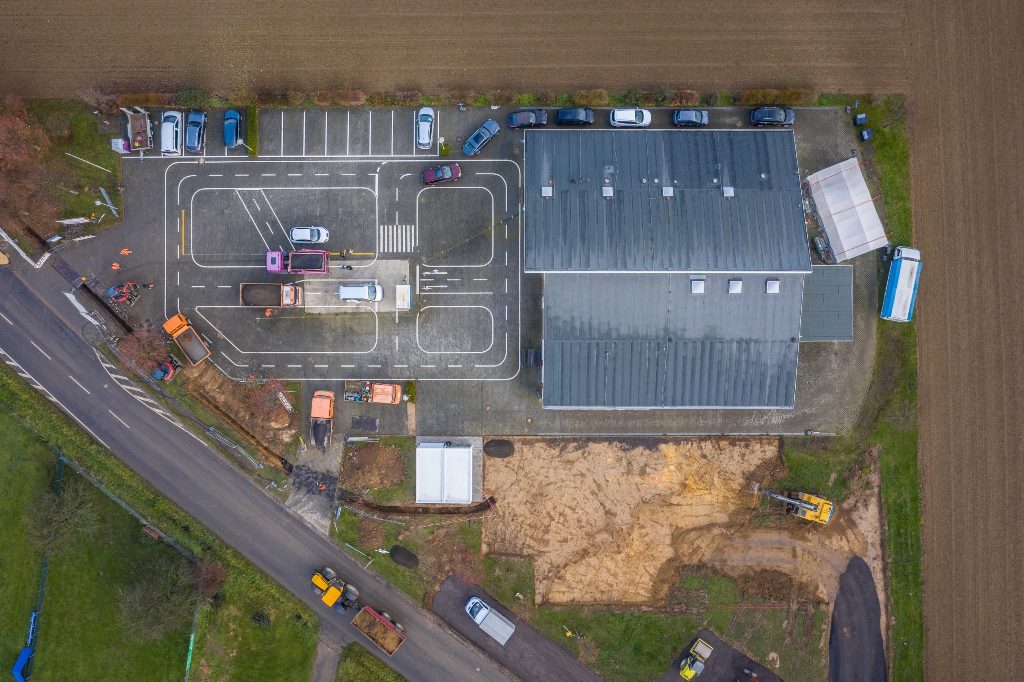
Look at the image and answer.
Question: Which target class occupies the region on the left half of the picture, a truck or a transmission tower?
truck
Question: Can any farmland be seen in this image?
Yes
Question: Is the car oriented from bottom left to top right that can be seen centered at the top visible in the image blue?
Yes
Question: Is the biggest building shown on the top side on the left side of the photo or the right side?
right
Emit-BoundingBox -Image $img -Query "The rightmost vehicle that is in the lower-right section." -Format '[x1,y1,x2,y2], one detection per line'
[743,477,835,524]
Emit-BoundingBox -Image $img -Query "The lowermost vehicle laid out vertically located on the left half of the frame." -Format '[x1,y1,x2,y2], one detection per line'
[310,389,335,448]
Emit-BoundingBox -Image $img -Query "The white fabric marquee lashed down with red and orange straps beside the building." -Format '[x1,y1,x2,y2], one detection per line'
[801,158,894,265]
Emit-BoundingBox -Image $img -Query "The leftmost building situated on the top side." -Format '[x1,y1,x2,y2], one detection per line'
[520,128,812,410]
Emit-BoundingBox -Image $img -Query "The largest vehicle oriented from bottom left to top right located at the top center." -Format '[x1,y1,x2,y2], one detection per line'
[461,119,500,159]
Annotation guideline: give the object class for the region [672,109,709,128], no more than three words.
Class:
car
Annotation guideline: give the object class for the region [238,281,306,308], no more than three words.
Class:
truck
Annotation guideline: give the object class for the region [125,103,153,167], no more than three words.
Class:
trailer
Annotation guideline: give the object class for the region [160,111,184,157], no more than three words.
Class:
vehicle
